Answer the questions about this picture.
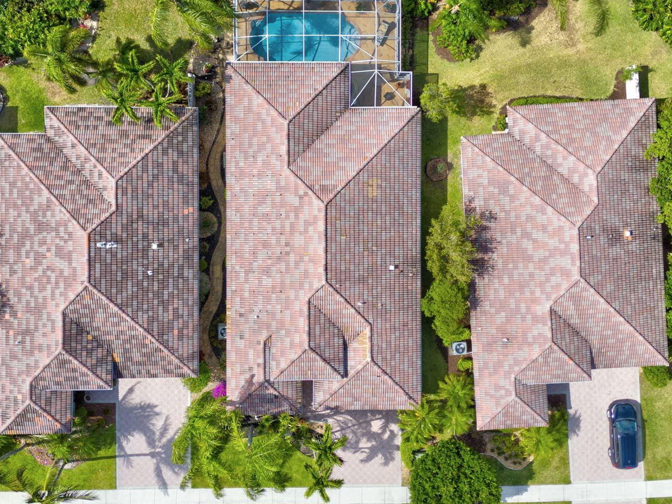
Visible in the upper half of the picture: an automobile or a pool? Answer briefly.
pool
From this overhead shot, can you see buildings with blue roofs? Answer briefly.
No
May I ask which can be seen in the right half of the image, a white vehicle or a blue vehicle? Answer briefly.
blue vehicle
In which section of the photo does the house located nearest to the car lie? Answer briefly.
right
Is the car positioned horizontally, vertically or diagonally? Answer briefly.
vertically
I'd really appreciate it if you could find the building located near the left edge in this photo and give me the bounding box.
[0,105,200,436]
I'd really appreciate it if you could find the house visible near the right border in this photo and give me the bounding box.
[460,97,671,431]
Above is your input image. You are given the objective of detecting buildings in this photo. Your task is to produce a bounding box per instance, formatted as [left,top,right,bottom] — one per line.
[225,61,423,416]
[0,105,200,436]
[460,97,671,431]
